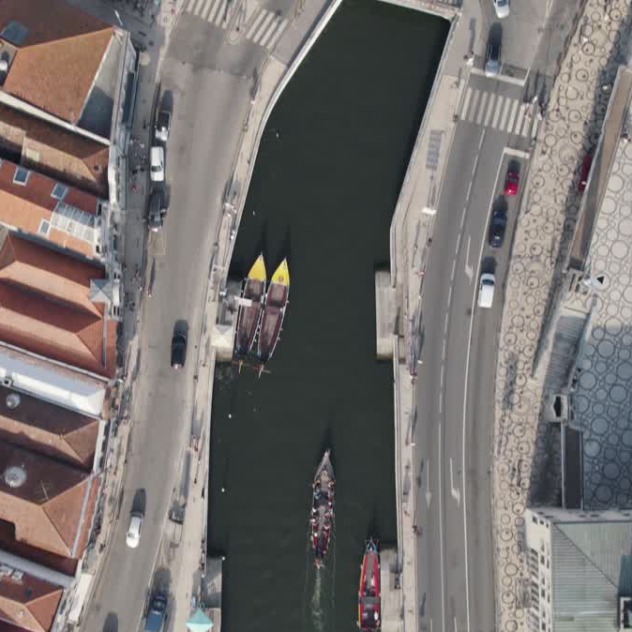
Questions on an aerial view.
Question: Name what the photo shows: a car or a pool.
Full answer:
There is a car in the scene.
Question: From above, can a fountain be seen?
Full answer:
No, no fountain is visible in the view.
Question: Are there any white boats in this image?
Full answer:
No, I can see no white boat in this picture.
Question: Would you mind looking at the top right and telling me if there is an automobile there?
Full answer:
Yes, an automobile is visible at the top right.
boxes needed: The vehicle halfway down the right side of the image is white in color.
[477,272,496,308]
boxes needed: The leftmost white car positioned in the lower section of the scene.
[127,511,143,543]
